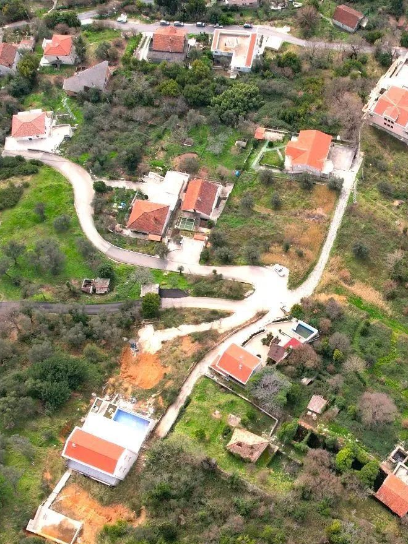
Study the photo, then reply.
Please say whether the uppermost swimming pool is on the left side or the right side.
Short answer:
right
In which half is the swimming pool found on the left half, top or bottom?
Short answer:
bottom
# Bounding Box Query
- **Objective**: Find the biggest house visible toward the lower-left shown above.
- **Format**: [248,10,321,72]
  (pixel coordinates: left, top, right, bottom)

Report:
[62,397,159,479]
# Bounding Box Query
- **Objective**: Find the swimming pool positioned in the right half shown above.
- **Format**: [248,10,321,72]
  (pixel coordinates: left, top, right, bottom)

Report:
[292,320,318,341]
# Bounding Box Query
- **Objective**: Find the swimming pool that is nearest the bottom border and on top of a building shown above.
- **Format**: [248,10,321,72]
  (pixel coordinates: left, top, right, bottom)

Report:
[112,407,152,435]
